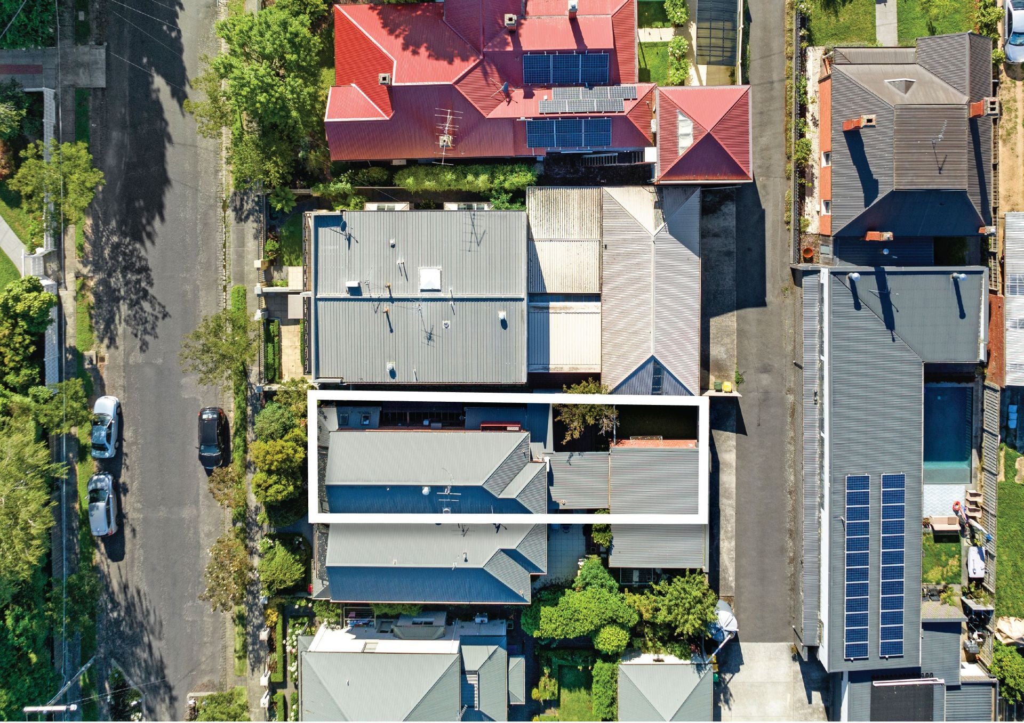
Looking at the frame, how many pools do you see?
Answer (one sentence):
Altogether the scene contains 1 pool.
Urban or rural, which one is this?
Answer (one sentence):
The land in this view is best described as urban.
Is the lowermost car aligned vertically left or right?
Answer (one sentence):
It is on the left.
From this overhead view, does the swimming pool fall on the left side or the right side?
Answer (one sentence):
The swimming pool is on the right side of the image.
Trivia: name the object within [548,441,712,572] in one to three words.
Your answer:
building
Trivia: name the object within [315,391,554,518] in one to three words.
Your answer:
house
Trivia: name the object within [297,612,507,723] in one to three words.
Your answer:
house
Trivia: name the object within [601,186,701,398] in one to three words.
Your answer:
building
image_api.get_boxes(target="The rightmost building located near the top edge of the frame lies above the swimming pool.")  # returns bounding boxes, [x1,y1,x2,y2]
[819,31,998,241]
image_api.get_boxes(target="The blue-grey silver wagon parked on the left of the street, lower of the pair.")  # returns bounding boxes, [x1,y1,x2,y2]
[88,475,120,540]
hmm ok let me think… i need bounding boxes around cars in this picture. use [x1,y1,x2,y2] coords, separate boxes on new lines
[196,407,229,469]
[89,397,123,460]
[88,475,120,540]
[1001,2,1024,65]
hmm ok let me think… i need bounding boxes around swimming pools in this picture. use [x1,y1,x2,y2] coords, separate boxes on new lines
[923,382,975,488]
